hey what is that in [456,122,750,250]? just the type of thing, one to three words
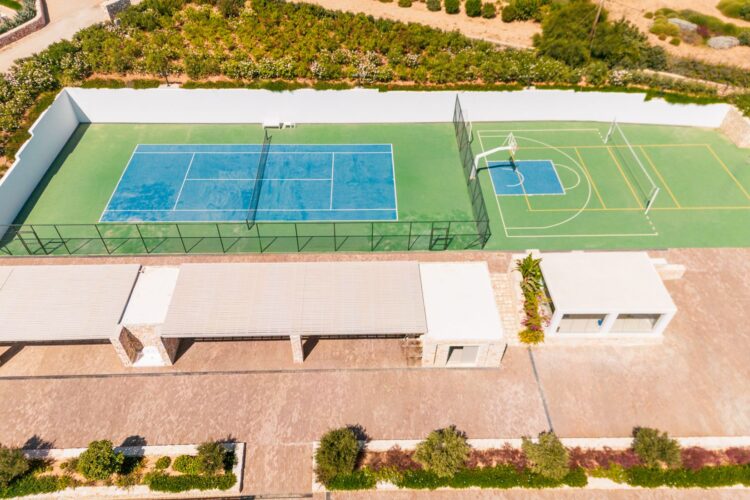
basketball court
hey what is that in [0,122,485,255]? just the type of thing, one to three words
tennis court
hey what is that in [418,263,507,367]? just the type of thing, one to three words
building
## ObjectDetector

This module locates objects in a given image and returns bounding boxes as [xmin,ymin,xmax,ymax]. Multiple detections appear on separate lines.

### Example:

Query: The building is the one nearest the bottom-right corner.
[532,252,677,338]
